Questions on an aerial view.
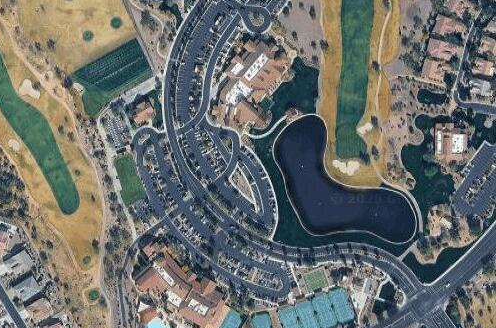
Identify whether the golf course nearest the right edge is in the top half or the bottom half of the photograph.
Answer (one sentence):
It is in the top half that the golf course nearest the right edge appears.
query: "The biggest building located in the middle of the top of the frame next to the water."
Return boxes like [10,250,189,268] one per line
[218,41,290,135]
